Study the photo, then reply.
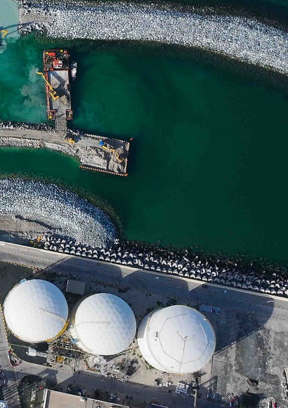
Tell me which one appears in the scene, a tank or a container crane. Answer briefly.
tank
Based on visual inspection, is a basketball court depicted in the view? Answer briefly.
No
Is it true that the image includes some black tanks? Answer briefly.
No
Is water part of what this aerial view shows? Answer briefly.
Yes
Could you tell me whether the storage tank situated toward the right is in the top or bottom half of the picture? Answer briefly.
bottom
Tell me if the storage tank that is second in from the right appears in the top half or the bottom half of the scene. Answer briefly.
bottom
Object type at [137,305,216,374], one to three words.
storage tank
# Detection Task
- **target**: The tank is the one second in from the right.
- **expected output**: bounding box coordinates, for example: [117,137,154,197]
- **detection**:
[71,293,136,355]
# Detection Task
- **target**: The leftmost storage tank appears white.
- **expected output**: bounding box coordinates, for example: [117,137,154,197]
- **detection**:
[2,278,69,345]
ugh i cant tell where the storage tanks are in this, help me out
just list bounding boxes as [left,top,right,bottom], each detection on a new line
[2,278,69,345]
[71,293,136,355]
[137,305,216,374]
